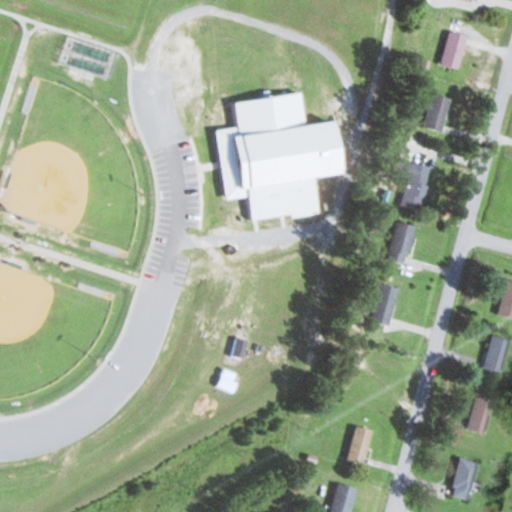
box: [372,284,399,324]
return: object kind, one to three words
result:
house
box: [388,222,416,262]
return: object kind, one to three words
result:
house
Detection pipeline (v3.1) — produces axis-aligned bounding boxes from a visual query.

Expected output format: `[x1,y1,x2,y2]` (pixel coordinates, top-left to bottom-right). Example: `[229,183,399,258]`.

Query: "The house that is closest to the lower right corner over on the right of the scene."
[452,458,479,502]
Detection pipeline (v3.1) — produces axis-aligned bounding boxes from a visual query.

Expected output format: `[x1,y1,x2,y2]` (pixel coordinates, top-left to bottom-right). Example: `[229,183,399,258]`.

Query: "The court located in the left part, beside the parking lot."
[58,36,116,80]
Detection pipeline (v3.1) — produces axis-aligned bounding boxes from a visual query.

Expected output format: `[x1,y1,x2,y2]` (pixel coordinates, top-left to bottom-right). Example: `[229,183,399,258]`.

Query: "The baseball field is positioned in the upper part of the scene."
[0,78,138,254]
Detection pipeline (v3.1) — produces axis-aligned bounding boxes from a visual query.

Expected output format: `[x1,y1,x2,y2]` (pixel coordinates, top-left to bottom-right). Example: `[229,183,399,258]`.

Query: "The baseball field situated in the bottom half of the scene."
[0,263,112,400]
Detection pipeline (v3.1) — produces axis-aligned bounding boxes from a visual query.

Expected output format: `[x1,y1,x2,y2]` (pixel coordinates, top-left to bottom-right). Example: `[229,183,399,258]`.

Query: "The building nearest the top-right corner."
[442,32,468,70]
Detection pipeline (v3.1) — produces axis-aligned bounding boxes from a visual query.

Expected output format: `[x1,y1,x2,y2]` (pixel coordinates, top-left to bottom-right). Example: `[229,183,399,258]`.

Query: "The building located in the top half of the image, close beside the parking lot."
[216,90,347,222]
